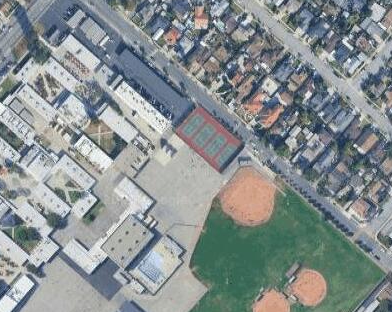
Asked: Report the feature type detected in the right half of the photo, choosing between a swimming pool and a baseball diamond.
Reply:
baseball diamond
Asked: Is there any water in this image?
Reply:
No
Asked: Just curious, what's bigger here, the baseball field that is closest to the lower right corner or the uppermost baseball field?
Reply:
the uppermost baseball field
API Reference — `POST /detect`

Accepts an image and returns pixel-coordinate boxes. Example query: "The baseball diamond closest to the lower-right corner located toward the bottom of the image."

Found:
[286,268,327,306]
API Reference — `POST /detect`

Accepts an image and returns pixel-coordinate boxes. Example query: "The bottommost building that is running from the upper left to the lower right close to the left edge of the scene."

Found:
[0,234,28,267]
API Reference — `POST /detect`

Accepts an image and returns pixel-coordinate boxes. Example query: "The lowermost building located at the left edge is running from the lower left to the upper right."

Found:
[0,276,35,312]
